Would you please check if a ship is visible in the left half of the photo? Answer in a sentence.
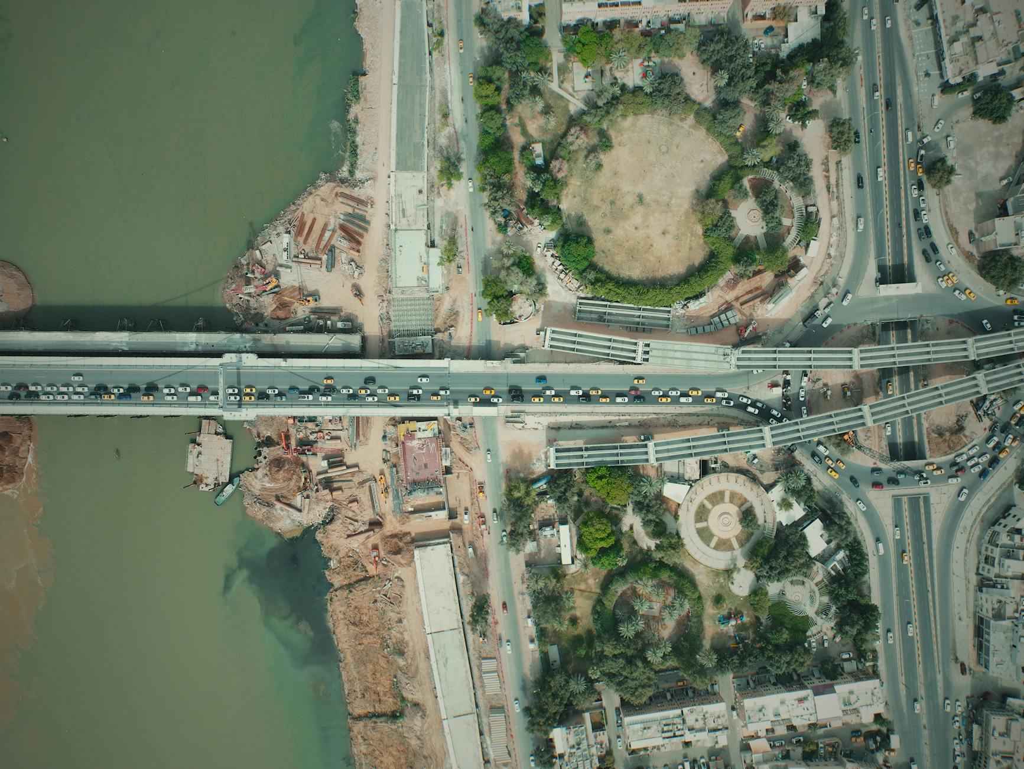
Yes, I can see a ship in the left half of the photo.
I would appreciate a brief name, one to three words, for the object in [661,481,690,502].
building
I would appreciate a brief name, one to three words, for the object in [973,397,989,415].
work vehicle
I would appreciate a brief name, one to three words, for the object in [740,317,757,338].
vehicle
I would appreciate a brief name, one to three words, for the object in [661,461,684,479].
shed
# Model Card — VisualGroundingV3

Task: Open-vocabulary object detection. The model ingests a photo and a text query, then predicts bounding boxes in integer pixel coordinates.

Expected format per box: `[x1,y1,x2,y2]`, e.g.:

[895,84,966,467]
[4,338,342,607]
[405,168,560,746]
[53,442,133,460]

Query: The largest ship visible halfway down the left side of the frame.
[183,419,234,490]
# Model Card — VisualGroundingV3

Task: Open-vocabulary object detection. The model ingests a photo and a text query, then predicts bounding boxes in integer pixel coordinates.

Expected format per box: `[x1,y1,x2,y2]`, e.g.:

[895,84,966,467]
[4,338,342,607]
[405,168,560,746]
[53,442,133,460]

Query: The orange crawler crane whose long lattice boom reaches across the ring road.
[840,429,930,484]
